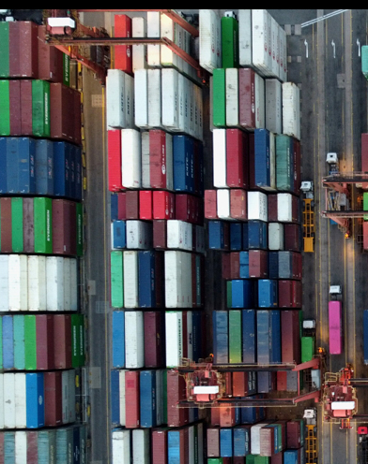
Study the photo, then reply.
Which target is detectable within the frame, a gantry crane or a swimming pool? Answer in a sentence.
There is a gantry crane in the scene.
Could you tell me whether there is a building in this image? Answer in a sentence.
No, I can't see a single building in this photo.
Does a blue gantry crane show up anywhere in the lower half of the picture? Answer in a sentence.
No, in the lower half of the picture there is no blue gantry crane.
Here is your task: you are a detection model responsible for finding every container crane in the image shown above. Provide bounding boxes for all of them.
[167,346,327,410]
[32,0,208,90]
[315,360,368,427]
[313,167,368,241]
